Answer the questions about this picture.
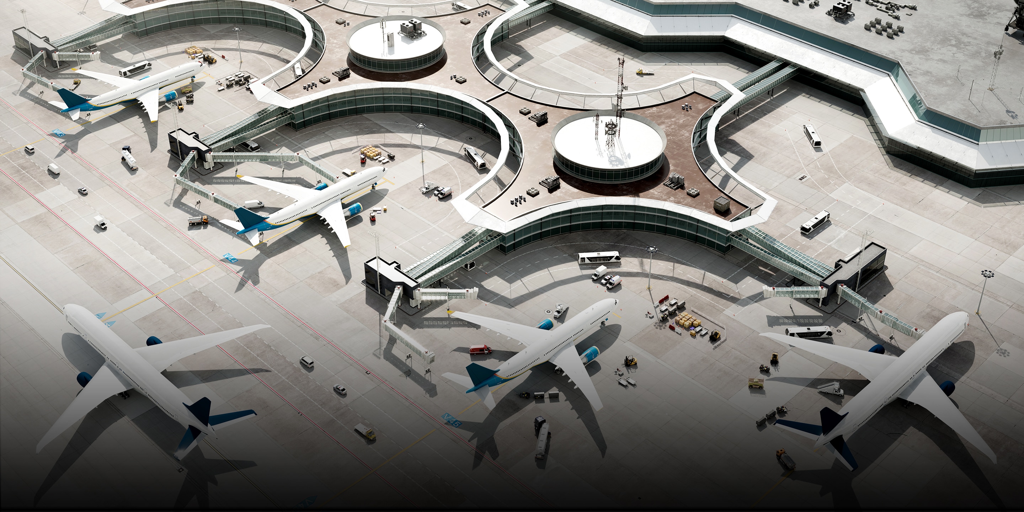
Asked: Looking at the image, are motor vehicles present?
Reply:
Yes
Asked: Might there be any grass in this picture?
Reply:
No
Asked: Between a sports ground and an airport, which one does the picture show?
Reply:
airport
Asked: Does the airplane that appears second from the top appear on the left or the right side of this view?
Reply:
left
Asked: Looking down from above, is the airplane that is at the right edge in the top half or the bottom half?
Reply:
bottom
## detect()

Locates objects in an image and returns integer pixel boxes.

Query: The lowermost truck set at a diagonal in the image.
[774,447,796,473]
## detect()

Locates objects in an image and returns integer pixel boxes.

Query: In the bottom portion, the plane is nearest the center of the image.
[441,299,617,409]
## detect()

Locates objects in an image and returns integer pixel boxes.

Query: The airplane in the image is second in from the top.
[221,168,388,247]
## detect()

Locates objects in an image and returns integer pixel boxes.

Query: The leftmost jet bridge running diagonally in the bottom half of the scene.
[379,284,439,371]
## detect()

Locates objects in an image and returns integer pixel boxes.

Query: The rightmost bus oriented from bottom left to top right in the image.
[799,211,830,235]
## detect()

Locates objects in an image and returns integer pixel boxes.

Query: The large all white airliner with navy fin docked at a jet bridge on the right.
[757,313,996,468]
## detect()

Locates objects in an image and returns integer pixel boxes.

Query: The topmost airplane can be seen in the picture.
[53,63,207,121]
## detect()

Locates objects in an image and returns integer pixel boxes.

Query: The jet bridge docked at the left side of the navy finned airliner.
[836,282,929,344]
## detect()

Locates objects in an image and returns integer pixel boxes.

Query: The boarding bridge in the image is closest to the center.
[413,286,481,312]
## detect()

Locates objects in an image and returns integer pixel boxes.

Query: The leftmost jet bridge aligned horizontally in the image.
[51,50,106,71]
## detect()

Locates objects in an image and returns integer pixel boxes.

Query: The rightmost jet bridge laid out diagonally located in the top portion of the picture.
[170,149,267,221]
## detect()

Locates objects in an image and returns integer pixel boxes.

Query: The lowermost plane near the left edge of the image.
[35,305,274,459]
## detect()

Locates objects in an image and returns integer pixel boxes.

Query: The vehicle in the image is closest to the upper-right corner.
[803,126,822,149]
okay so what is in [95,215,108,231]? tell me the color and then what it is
white vehicle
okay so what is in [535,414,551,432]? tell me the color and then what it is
black vehicle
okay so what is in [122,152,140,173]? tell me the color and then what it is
white vehicle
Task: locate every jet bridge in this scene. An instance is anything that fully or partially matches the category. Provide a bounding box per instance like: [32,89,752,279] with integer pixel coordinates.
[205,150,348,185]
[51,50,106,71]
[170,149,267,221]
[379,284,439,371]
[18,49,92,103]
[836,282,929,344]
[755,284,827,310]
[413,286,481,312]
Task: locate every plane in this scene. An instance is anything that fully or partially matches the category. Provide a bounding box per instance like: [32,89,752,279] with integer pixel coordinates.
[35,305,274,459]
[221,168,388,247]
[53,63,207,121]
[757,313,996,468]
[441,299,617,409]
